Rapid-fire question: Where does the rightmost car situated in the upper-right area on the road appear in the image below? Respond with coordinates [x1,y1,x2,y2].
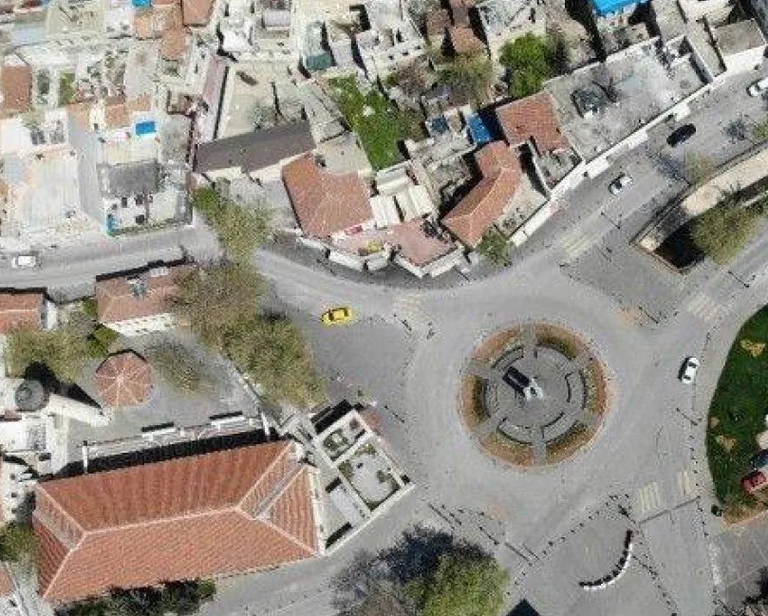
[747,74,768,95]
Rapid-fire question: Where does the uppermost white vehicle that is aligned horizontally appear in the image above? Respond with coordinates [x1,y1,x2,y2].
[8,253,37,266]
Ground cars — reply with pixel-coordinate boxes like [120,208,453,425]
[667,123,694,144]
[747,74,768,95]
[609,172,633,192]
[750,450,768,470]
[742,471,768,491]
[683,355,698,385]
[8,253,37,266]
[322,307,350,323]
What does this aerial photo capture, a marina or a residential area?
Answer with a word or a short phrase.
residential area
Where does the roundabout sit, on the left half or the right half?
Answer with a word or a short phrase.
right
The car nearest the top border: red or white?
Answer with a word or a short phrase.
white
